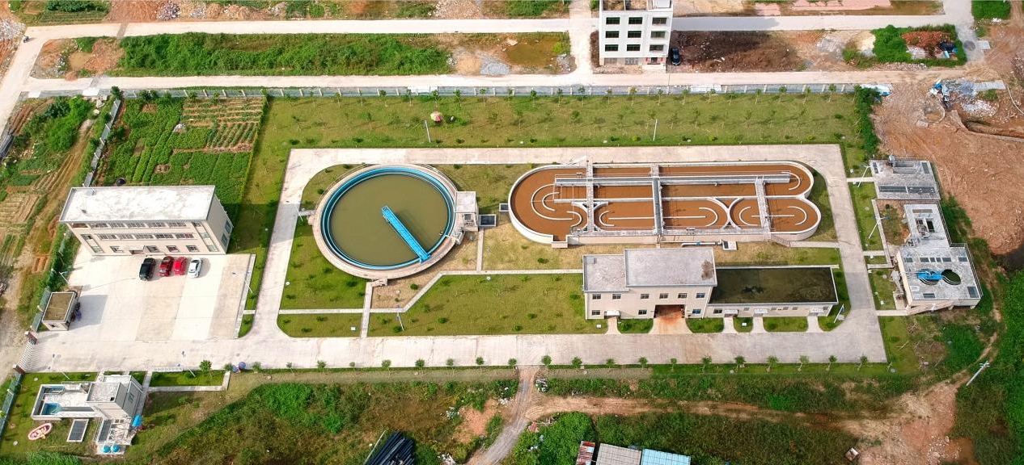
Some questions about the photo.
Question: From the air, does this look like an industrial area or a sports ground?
industrial area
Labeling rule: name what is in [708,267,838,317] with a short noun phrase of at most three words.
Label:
building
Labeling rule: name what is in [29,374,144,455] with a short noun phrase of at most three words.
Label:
building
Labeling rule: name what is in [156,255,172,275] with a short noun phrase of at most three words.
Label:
car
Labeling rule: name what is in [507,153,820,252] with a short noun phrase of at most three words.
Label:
storage tank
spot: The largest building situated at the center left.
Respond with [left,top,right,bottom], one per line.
[58,186,234,261]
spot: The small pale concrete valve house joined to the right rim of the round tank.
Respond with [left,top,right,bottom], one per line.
[452,191,478,248]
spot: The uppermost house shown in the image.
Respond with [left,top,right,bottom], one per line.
[598,0,672,71]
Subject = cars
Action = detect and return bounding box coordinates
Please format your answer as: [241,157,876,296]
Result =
[171,256,186,274]
[670,48,679,63]
[186,258,201,276]
[156,255,172,275]
[135,258,153,278]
